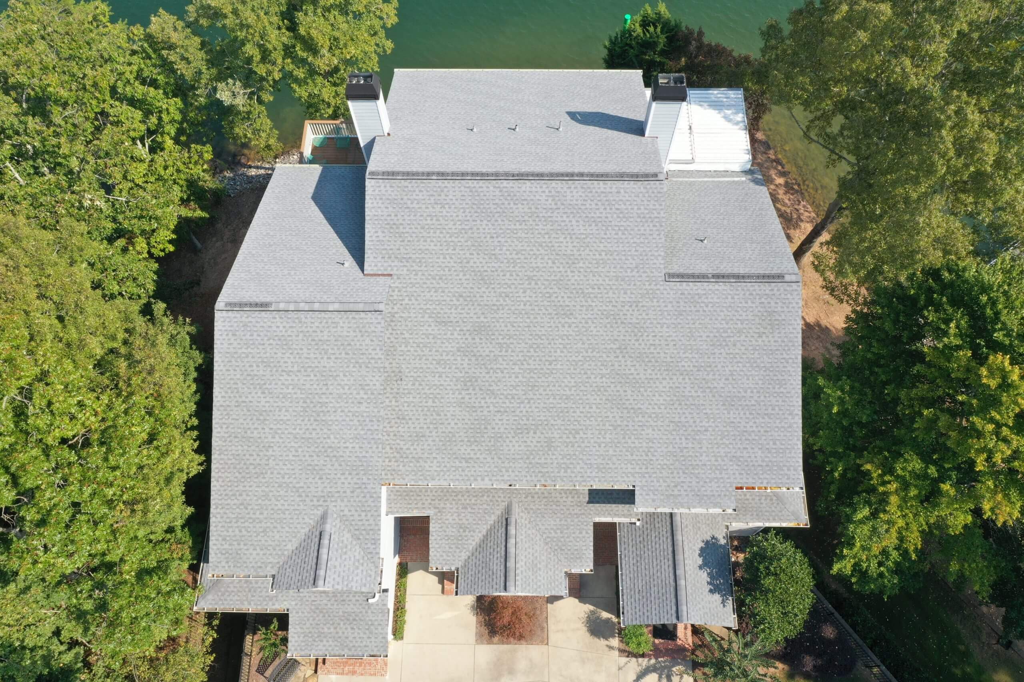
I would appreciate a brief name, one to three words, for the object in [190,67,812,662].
house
